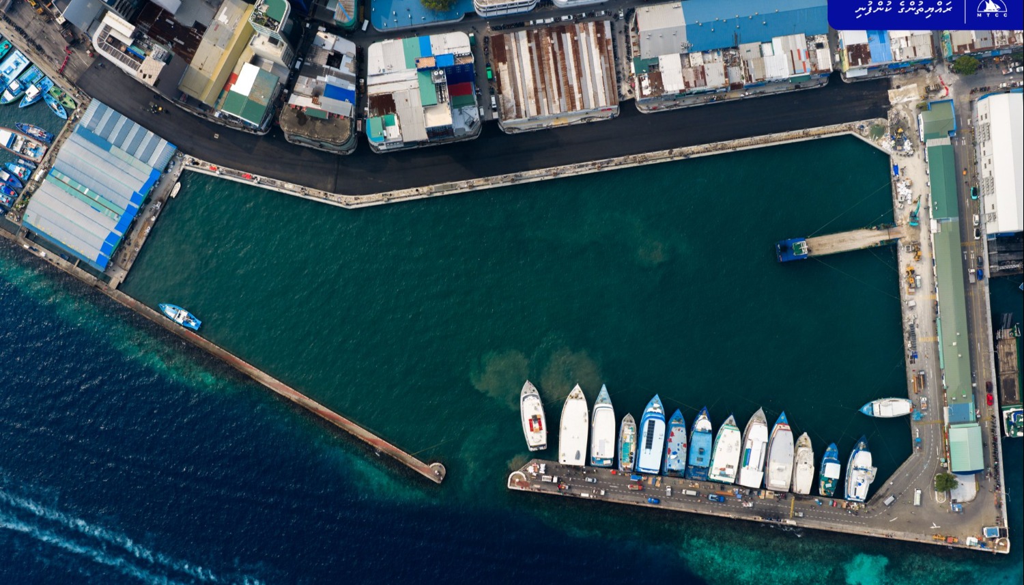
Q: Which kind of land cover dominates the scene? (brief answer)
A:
water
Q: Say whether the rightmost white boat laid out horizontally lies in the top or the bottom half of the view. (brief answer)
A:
bottom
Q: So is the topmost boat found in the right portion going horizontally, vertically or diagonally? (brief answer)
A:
horizontally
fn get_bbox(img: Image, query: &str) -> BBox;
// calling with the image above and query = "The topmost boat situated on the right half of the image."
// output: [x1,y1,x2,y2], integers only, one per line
[772,230,896,262]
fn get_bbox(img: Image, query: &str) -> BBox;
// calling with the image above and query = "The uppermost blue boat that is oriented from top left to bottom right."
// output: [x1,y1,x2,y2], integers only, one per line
[48,91,73,120]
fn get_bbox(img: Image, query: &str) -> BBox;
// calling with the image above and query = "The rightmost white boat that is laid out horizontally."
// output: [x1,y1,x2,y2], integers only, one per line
[855,397,910,418]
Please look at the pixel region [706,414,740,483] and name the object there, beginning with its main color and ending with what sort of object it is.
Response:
white boat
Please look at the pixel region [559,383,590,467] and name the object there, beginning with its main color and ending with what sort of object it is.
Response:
white boat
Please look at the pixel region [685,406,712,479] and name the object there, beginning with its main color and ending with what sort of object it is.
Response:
blue boat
